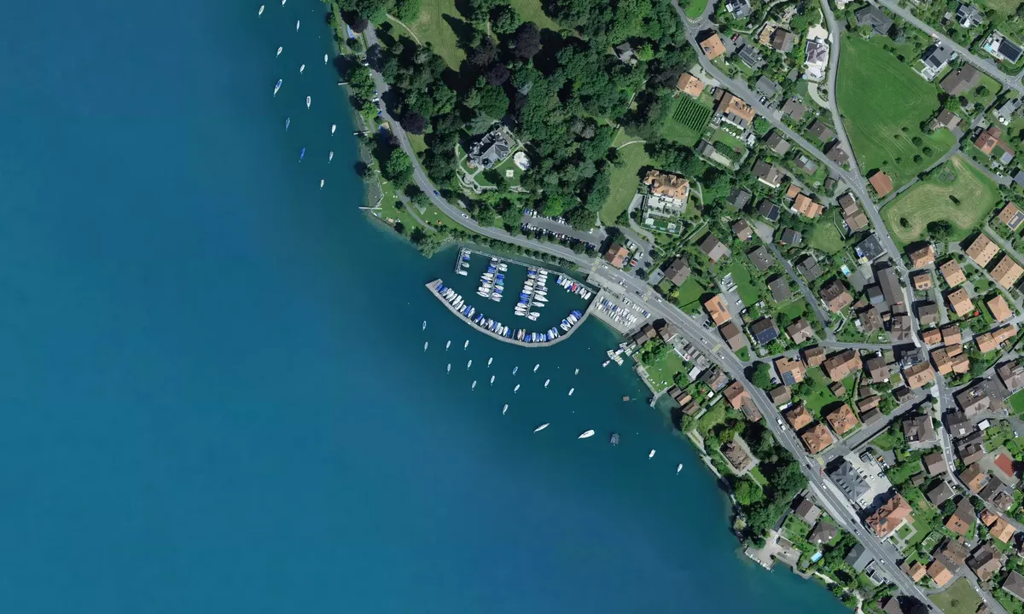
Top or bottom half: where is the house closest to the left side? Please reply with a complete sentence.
Seen from above, the house closest to the left side lies in the top half of the view.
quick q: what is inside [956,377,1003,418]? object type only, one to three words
building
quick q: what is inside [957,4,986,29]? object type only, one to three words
house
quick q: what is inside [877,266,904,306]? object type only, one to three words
barn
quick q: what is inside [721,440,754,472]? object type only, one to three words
house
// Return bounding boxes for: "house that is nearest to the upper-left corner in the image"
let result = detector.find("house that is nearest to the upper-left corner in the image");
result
[468,128,516,167]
